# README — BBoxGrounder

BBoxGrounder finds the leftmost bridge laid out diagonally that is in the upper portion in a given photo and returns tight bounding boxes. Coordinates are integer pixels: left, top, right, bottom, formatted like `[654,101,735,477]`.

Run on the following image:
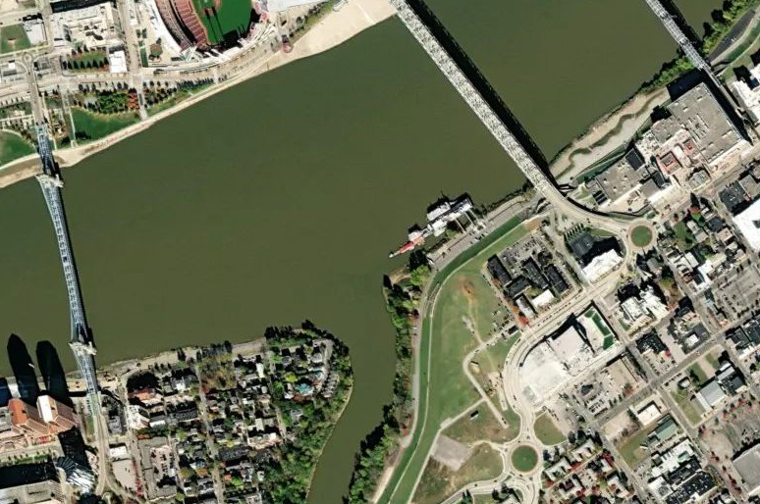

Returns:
[387,0,628,233]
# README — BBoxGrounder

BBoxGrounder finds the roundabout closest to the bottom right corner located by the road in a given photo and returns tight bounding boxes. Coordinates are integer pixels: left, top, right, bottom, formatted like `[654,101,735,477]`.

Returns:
[507,441,540,474]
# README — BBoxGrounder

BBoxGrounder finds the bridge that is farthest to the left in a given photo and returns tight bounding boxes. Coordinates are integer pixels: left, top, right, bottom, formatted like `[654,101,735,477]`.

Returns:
[25,59,109,448]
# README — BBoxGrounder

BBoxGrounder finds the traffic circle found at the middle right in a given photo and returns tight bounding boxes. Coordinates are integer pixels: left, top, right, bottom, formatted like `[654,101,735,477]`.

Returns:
[627,220,657,250]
